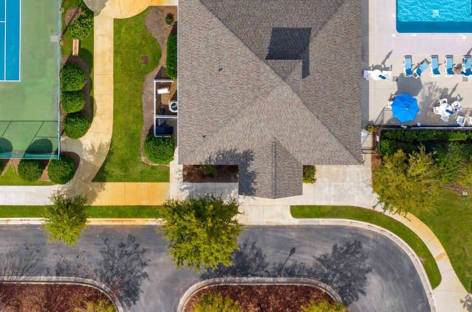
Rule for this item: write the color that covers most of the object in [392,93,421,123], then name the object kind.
blue umbrella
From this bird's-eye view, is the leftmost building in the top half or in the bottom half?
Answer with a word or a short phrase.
top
